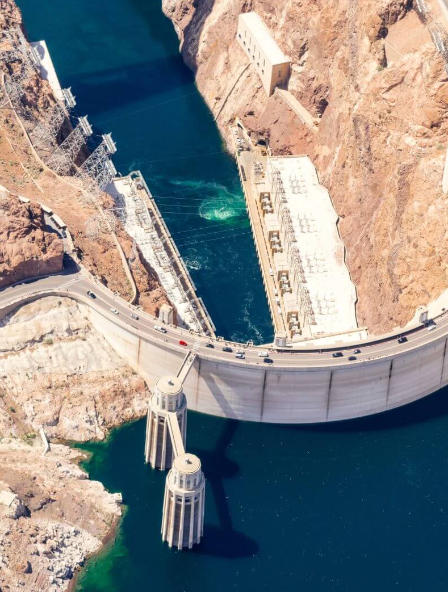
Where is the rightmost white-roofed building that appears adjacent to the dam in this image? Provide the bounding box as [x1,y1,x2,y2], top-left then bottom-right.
[234,126,359,348]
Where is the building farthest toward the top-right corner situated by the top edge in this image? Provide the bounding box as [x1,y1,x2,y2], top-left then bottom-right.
[236,12,291,94]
